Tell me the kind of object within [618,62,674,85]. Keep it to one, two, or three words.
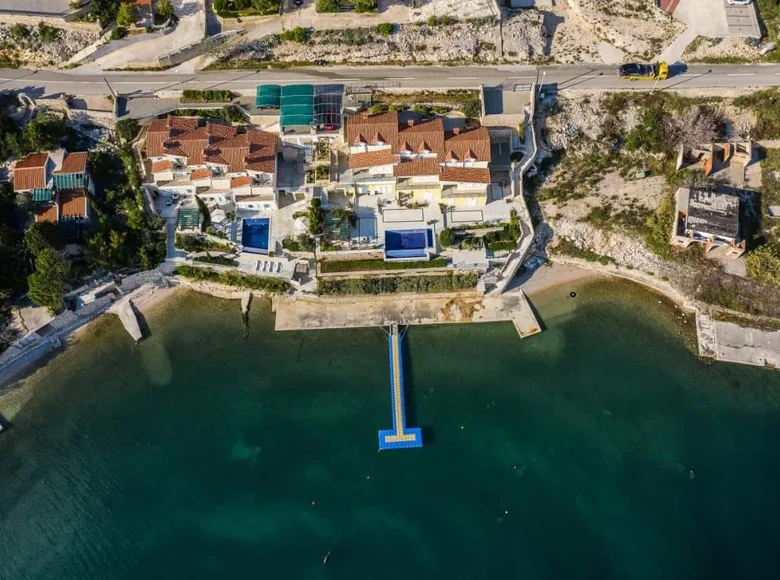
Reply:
truck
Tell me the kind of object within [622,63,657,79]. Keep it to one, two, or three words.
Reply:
car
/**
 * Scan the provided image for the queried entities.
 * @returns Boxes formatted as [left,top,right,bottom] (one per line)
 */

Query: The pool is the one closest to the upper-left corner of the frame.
[241,216,270,255]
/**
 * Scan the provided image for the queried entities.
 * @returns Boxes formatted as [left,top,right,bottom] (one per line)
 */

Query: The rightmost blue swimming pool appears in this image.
[383,227,436,262]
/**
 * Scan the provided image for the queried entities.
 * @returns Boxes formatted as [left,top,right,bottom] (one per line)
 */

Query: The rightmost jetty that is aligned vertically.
[378,325,425,458]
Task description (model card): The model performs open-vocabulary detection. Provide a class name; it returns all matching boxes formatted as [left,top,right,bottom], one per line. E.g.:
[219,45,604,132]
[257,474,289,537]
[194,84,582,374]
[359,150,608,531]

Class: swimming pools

[241,216,270,255]
[383,227,436,262]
